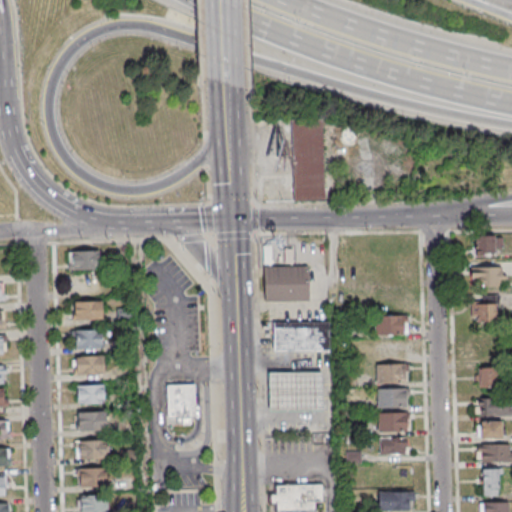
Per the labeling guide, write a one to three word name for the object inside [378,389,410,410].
house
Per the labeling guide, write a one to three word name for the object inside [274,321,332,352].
building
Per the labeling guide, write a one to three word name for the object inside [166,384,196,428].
building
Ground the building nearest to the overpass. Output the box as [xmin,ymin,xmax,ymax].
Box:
[293,118,325,201]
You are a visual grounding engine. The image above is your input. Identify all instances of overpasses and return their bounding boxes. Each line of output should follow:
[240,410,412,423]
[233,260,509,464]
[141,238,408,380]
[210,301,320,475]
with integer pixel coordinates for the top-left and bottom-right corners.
[198,0,252,123]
